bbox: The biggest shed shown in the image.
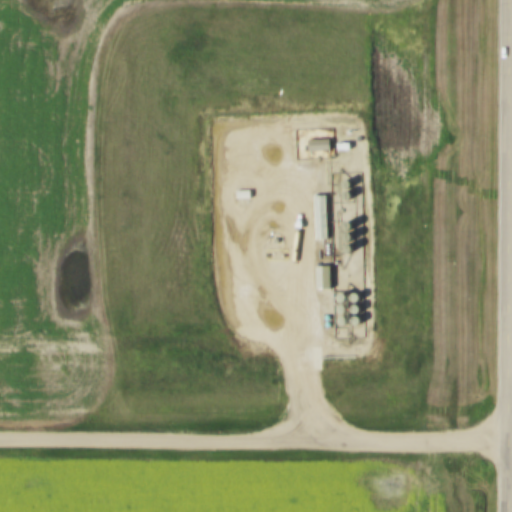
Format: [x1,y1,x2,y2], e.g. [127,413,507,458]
[314,194,328,240]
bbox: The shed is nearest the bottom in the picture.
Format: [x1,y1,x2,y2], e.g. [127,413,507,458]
[316,266,330,290]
